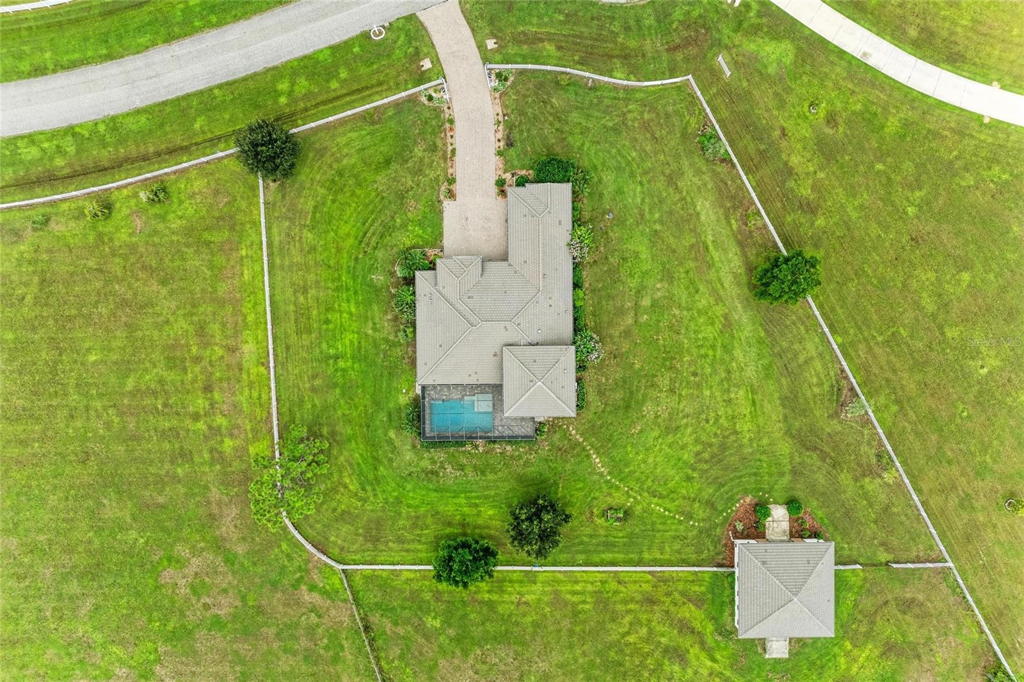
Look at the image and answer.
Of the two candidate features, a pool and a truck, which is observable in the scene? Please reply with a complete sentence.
Of the two, only a pool appears.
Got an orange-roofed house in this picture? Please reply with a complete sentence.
No, I can't see a single orange-roofed house in this photo.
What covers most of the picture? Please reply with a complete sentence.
The scene is dominated by grass.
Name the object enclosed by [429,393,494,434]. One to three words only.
swimming pool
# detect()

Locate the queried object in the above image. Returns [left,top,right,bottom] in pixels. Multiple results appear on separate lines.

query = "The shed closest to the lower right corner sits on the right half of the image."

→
[733,538,837,640]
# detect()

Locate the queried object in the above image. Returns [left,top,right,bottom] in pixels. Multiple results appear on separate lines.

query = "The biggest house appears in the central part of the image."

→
[415,180,576,418]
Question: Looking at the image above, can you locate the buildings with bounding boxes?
[415,180,576,418]
[733,538,837,640]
